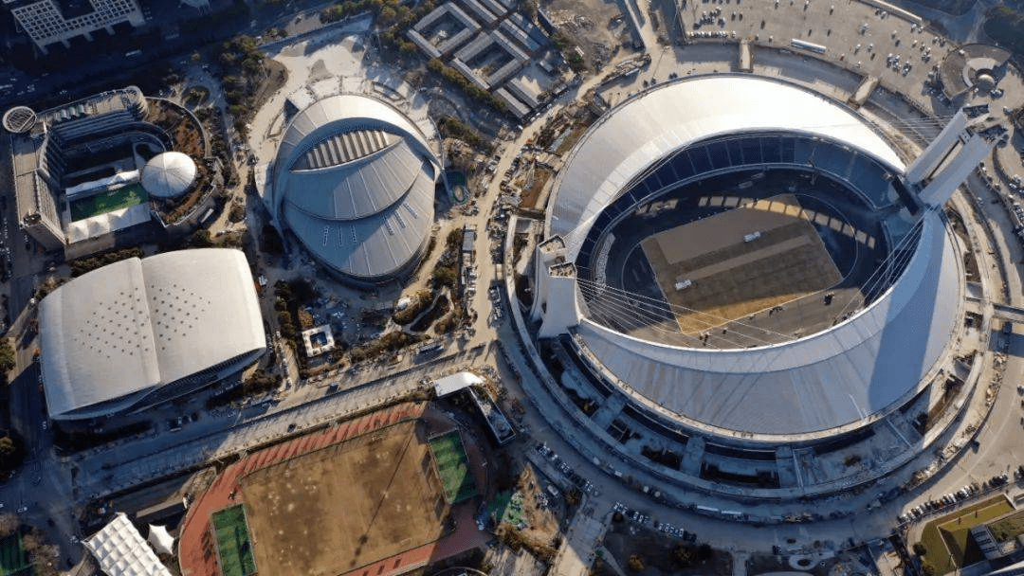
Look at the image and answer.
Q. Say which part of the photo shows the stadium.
right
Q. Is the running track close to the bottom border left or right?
left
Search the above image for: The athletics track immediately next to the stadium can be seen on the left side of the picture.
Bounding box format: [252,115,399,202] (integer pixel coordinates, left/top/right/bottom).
[179,404,500,576]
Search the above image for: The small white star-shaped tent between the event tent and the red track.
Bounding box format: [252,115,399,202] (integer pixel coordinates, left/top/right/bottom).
[149,525,176,554]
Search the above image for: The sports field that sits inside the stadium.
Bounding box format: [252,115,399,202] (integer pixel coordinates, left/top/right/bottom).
[641,194,842,332]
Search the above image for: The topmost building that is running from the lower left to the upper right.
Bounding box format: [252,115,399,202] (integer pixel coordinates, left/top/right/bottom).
[414,3,453,39]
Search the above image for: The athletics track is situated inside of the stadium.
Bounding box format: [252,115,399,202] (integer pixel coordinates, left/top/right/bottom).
[605,182,883,344]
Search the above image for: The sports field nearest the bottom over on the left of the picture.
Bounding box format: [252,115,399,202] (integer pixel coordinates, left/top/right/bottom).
[240,421,447,576]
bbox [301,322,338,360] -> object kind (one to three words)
building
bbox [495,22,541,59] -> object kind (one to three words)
house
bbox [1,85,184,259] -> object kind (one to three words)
building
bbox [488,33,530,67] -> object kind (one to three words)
house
